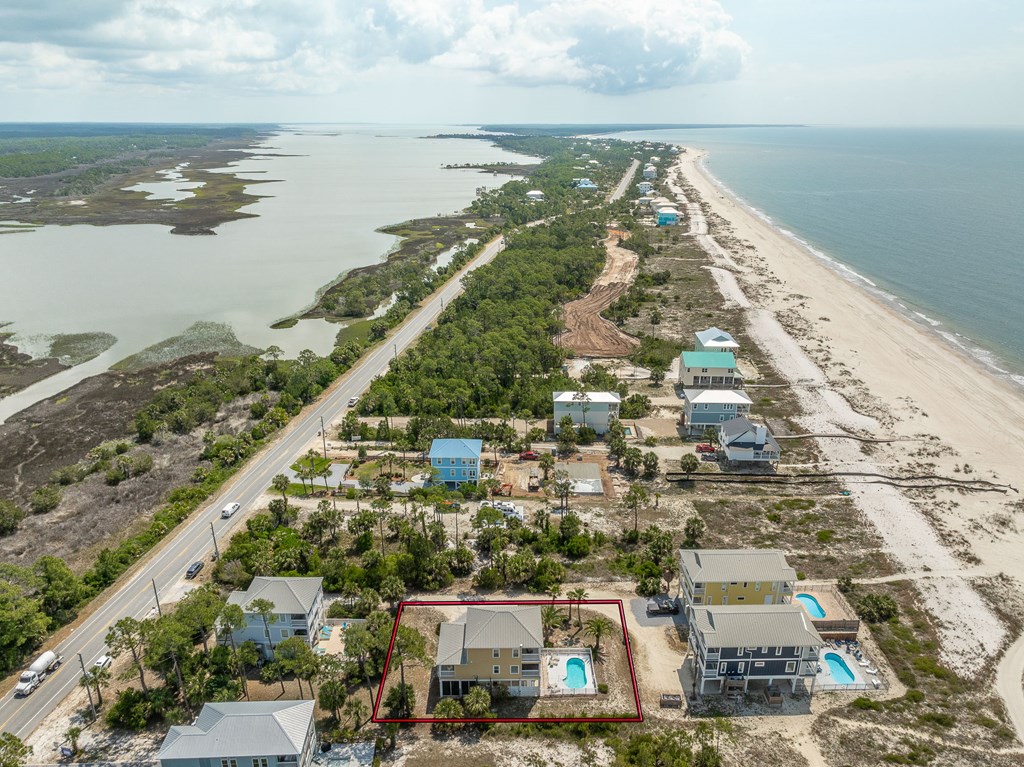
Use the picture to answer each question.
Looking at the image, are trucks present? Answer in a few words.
Yes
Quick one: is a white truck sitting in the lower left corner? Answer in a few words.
Yes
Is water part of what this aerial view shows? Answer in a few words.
Yes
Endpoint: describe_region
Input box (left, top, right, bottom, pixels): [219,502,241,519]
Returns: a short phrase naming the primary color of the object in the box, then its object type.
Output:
white vehicle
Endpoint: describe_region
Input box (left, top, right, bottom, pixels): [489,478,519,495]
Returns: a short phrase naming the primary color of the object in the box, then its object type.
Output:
red work vehicle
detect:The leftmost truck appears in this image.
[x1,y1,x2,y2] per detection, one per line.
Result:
[9,652,68,701]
